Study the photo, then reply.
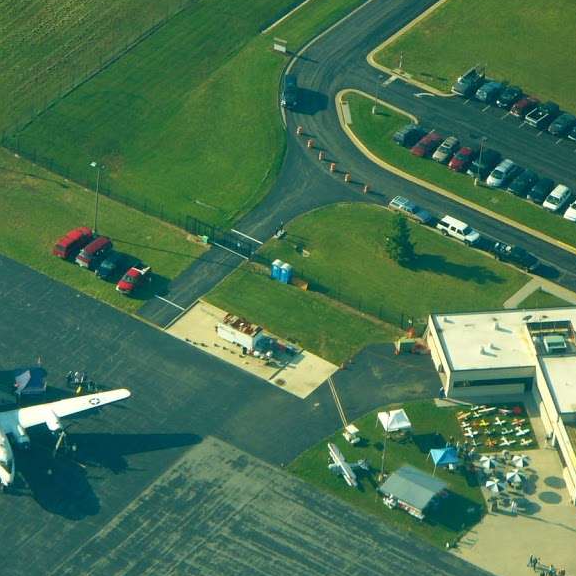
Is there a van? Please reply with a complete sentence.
Yes, the picture does show a van.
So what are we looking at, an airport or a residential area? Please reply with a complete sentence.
The area seen from above is an airport.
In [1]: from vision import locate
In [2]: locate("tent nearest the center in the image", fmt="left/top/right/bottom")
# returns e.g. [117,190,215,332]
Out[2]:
[375,409,412,437]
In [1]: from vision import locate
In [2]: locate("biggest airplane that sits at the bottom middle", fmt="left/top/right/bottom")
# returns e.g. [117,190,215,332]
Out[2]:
[323,441,369,485]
